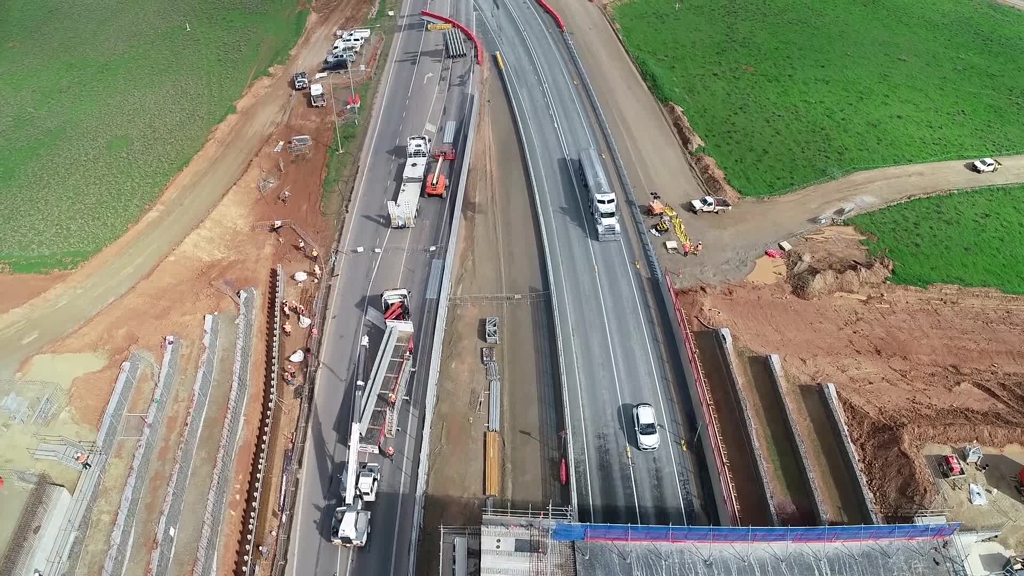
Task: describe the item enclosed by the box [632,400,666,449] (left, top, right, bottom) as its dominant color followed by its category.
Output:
white car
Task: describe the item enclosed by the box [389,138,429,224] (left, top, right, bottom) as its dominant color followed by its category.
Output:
white vehicle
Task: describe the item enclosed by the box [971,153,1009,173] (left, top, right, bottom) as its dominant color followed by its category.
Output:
white vehicle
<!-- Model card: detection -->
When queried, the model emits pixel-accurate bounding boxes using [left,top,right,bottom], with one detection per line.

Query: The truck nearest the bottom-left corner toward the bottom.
[349,279,416,449]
